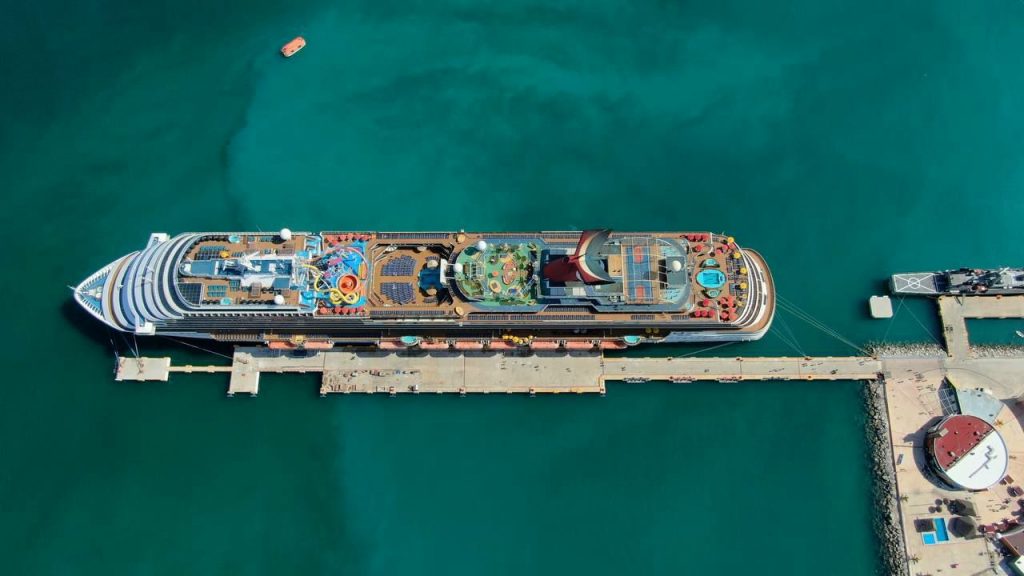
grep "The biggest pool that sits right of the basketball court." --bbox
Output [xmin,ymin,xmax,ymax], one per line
[696,269,726,288]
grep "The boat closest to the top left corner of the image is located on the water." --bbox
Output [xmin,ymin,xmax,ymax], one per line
[281,40,303,54]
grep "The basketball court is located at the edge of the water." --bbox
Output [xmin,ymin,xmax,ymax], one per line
[623,238,697,306]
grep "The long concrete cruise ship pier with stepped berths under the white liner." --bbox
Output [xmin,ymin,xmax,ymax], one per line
[116,346,883,399]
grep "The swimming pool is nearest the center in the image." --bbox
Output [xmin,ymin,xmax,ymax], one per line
[421,268,440,290]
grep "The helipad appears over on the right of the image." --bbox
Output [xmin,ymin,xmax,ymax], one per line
[894,274,936,293]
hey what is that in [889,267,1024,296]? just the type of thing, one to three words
ship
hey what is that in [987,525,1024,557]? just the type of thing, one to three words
building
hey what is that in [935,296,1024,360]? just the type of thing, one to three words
pier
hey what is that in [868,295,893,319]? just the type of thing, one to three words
pier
